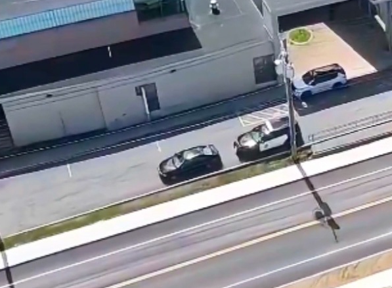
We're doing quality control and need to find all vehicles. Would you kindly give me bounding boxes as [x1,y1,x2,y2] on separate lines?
[231,108,301,151]
[291,59,346,95]
[156,138,223,178]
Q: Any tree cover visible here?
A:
No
